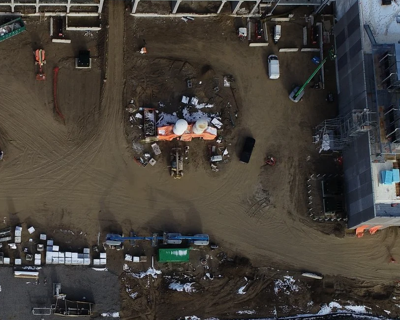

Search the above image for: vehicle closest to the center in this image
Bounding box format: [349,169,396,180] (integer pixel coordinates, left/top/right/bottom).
[171,140,184,176]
